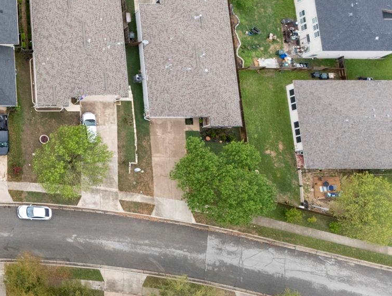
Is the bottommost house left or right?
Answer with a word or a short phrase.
right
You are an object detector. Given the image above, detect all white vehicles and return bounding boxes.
[16,204,53,220]
[84,111,102,146]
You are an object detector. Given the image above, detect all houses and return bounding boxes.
[291,0,392,58]
[283,80,392,170]
[0,0,20,108]
[27,0,130,108]
[133,0,243,127]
